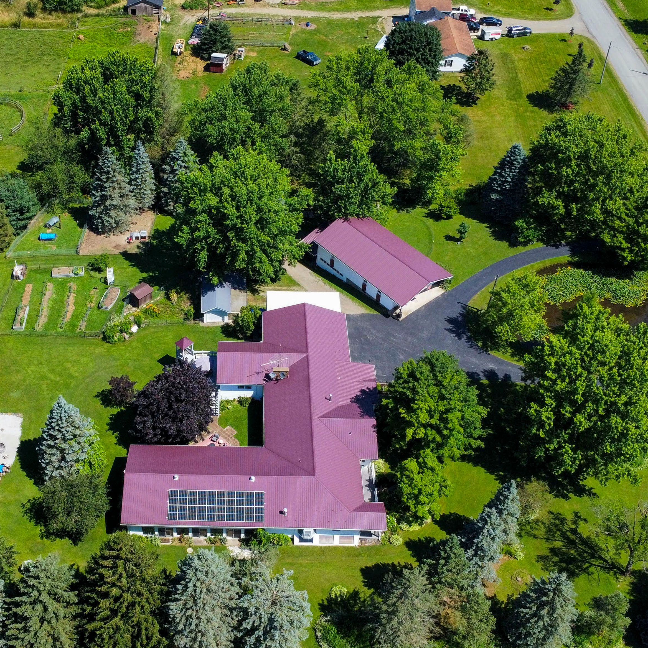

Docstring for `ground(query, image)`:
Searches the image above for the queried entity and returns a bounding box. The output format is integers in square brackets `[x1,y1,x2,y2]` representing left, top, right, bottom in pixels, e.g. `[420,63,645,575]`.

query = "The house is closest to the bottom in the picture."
[120,302,388,553]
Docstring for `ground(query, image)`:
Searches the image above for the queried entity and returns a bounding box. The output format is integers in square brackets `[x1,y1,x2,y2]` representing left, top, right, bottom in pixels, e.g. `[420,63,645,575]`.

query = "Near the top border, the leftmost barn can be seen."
[125,0,161,16]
